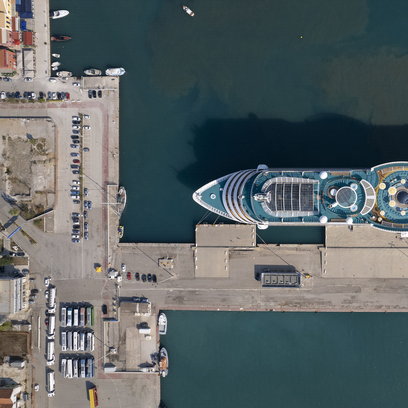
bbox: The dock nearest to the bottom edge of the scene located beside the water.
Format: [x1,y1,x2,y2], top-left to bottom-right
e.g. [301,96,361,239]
[119,242,408,353]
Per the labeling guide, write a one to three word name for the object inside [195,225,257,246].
pier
